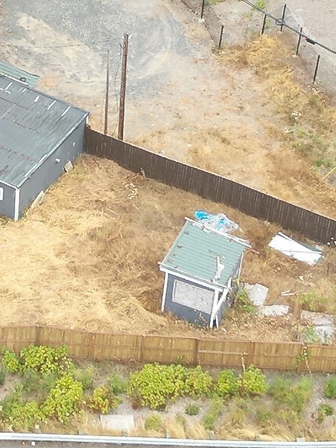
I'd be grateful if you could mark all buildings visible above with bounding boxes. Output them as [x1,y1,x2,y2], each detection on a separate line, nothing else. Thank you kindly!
[0,63,91,223]
[155,223,262,329]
